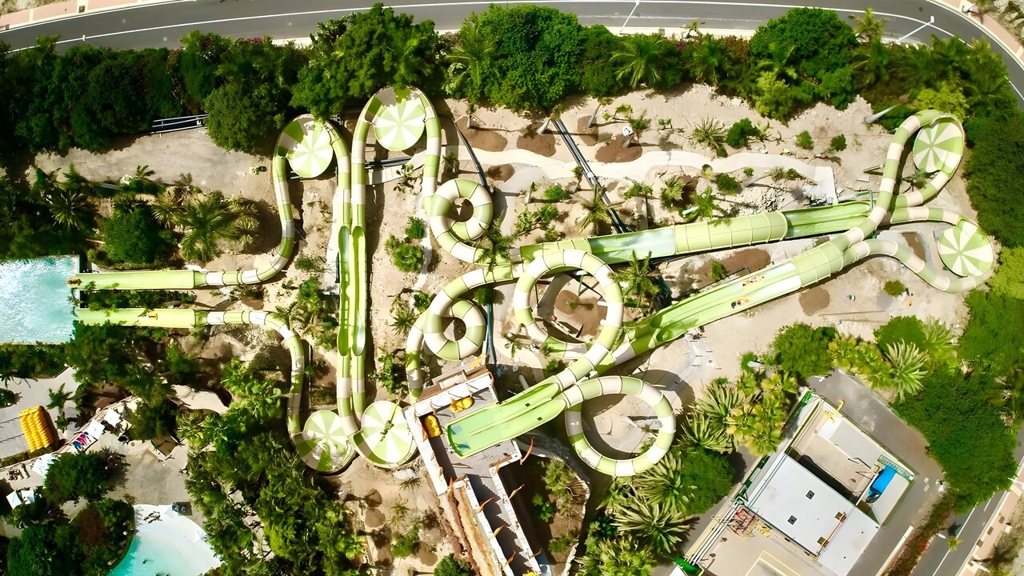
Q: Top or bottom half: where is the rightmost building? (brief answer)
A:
bottom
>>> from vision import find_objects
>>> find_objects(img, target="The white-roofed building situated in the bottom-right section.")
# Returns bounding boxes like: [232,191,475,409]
[741,449,880,576]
